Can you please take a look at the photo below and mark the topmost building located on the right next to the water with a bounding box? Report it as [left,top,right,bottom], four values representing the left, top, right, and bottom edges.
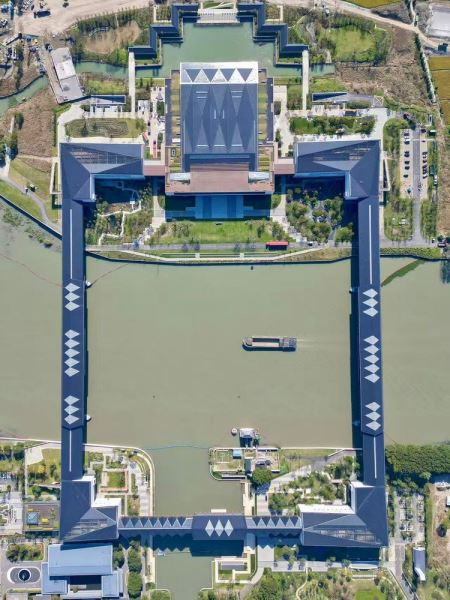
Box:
[237,3,309,56]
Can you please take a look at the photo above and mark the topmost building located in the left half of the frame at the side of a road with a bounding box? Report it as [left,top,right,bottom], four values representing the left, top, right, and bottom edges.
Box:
[128,3,200,59]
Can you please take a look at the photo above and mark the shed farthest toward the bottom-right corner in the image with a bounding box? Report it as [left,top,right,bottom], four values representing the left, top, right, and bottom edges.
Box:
[412,546,425,581]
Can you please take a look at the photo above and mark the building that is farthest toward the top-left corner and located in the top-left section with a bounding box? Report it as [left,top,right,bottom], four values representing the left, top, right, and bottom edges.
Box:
[51,46,86,106]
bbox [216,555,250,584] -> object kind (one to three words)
building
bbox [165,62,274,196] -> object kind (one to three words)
building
